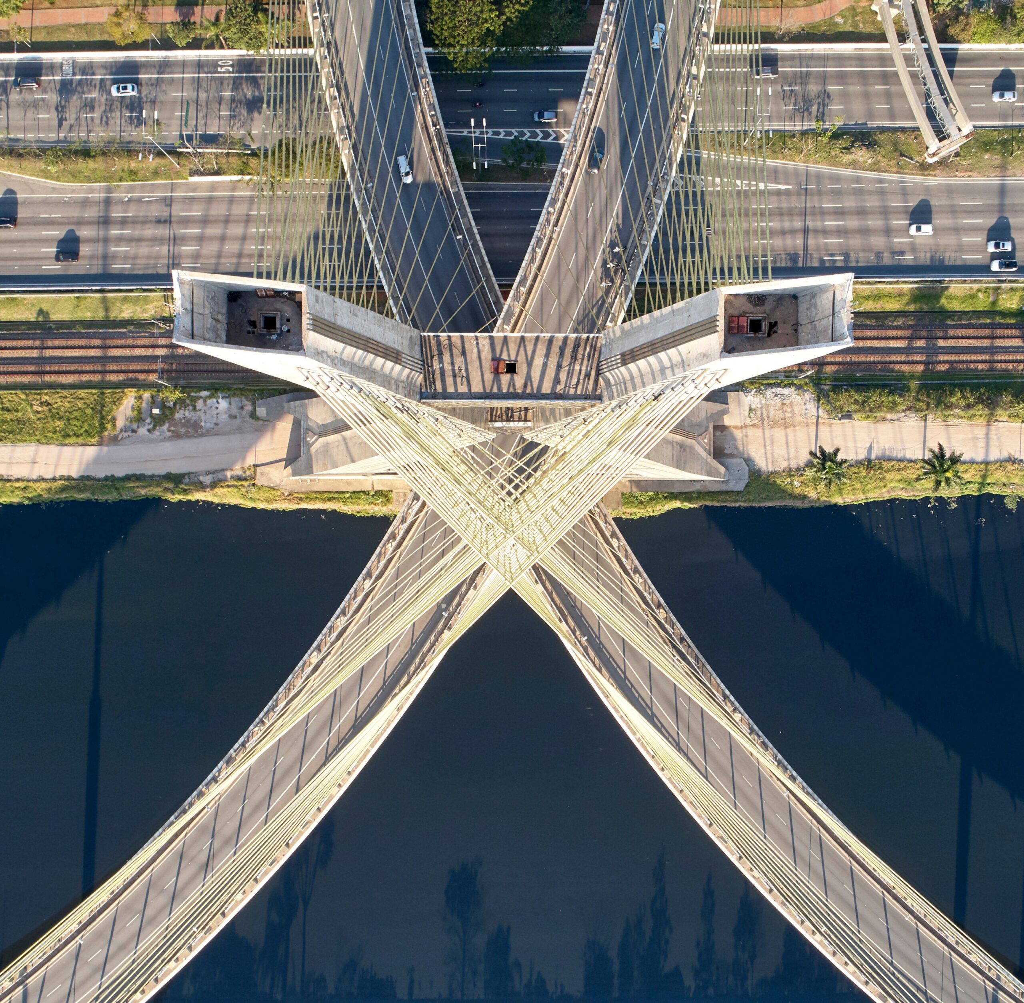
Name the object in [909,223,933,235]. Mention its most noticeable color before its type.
white vehicle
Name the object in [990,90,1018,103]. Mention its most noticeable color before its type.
white vehicle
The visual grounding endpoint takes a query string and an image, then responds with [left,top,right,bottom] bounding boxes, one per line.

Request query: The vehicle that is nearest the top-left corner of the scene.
[13,75,41,90]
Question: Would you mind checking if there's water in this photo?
Yes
